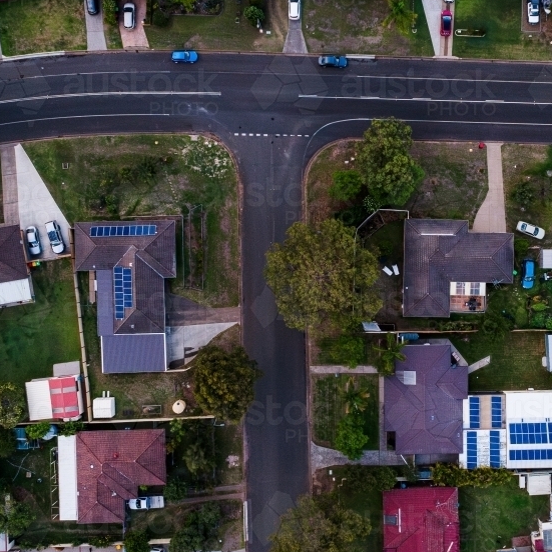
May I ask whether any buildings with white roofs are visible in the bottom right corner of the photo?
Yes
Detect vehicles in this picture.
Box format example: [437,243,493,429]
[147,546,167,552]
[25,227,42,256]
[516,220,545,239]
[440,11,453,37]
[521,258,535,288]
[287,0,300,21]
[526,0,540,24]
[129,495,165,511]
[86,0,100,17]
[122,4,136,30]
[171,50,198,64]
[318,55,347,67]
[45,221,65,254]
